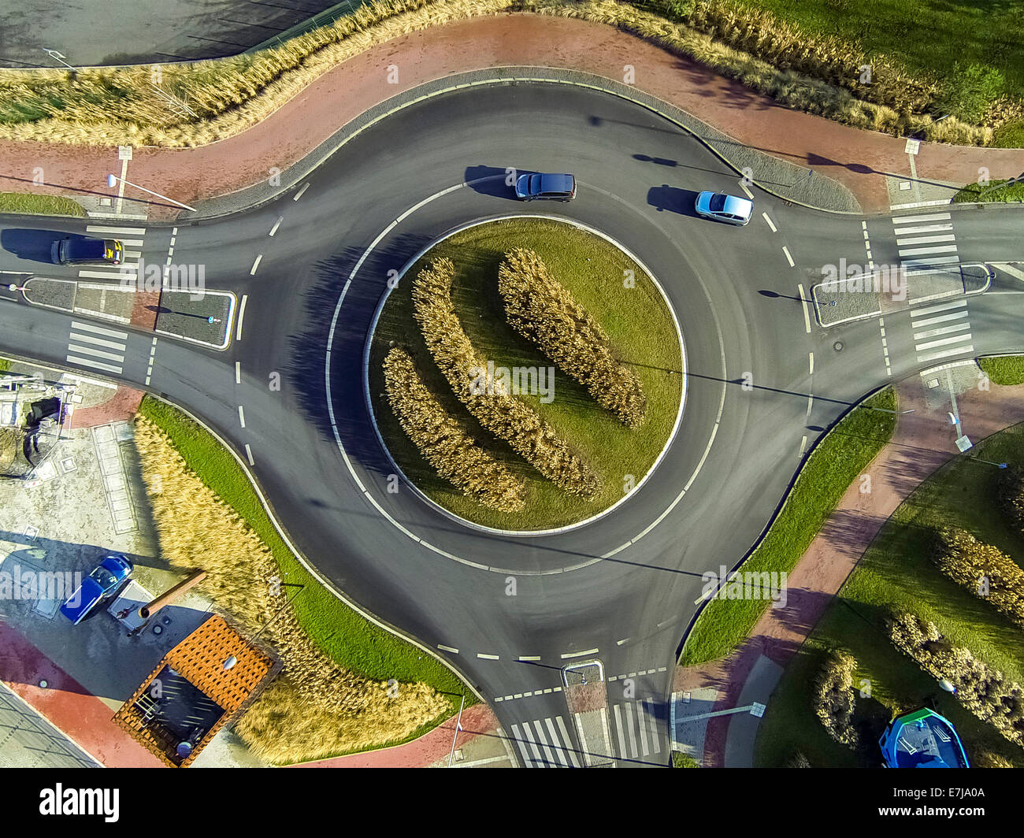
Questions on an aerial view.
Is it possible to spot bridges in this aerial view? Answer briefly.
No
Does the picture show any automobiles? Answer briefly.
Yes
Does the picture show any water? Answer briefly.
No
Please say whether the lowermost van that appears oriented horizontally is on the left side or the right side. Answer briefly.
left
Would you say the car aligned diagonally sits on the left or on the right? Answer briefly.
left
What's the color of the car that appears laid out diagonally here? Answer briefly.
blue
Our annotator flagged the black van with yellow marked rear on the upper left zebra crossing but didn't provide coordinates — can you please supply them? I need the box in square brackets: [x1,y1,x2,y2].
[53,234,126,268]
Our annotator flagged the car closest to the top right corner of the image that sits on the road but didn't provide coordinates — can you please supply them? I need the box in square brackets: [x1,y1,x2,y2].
[697,189,759,225]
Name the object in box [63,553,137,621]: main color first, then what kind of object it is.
blue car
